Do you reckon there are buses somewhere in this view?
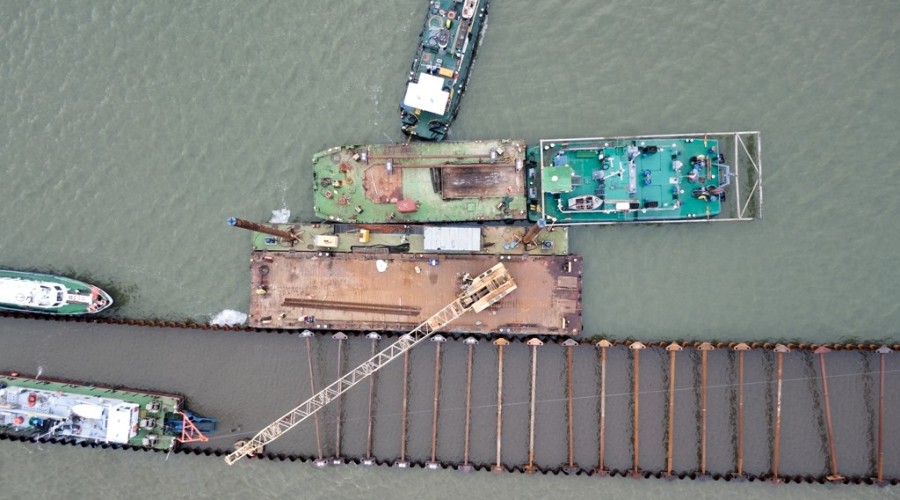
No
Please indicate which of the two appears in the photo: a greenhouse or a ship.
ship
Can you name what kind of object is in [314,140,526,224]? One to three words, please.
ship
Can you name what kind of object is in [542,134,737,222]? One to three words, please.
boat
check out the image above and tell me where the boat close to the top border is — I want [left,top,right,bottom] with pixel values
[399,0,491,142]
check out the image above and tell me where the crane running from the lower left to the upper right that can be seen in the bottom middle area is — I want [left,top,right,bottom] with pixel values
[225,263,517,464]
